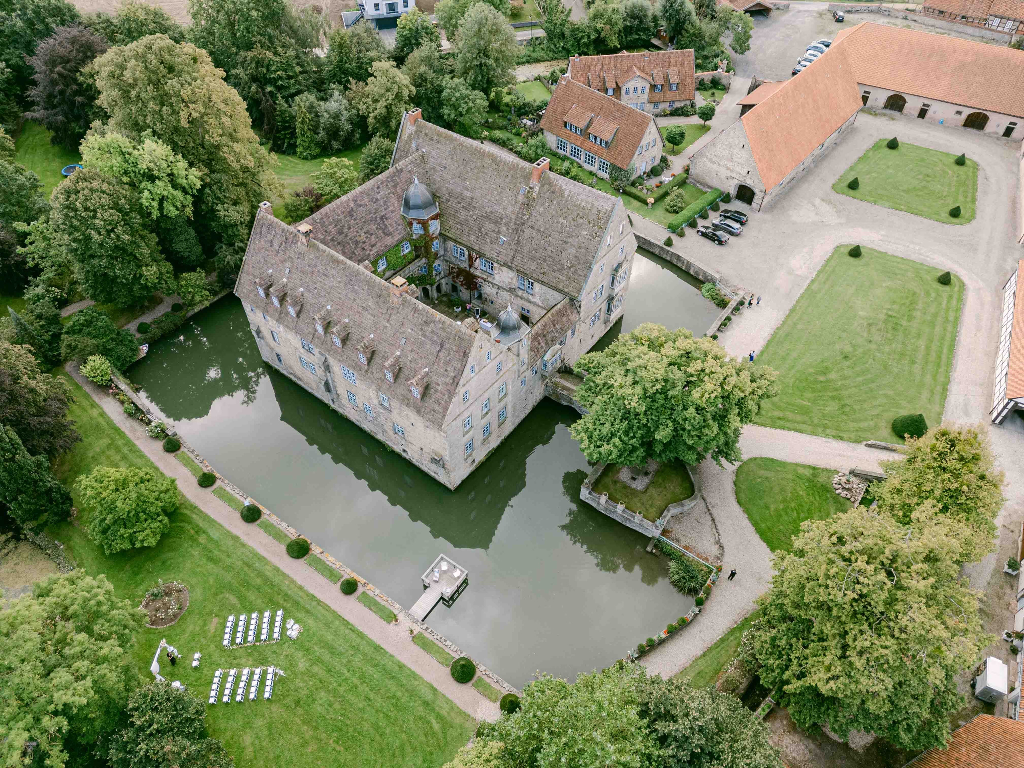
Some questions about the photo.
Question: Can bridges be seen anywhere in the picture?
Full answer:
Yes, the image includes a bridge.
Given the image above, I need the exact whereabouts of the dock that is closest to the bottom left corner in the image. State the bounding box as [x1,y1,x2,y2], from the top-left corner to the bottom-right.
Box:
[411,555,474,625]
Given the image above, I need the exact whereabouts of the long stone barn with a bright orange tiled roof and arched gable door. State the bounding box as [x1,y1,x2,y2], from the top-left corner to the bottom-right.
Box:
[680,16,873,206]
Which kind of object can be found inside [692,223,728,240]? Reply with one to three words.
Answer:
car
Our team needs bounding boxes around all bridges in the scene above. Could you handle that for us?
[543,359,591,418]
